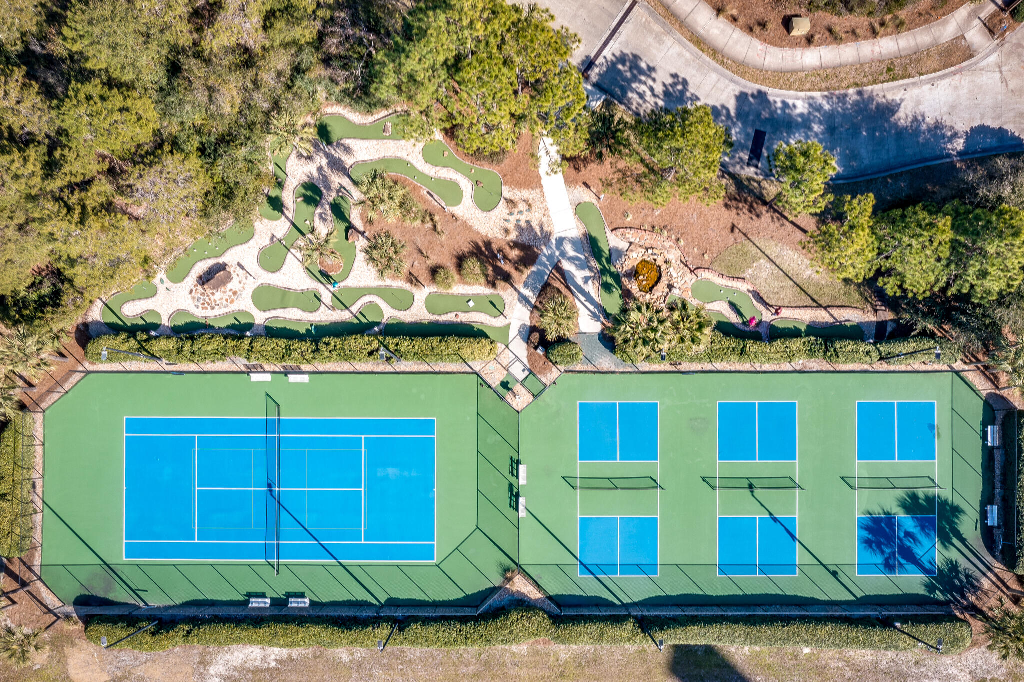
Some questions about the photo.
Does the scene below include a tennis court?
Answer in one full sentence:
Yes, there is a tennis court in the image.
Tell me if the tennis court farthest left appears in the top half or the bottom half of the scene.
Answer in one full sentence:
You can find the tennis court farthest left in the bottom half.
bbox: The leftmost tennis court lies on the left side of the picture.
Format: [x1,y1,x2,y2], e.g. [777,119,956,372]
[41,373,518,606]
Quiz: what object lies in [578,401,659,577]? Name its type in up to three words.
sports court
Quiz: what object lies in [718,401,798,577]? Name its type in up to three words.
sports court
